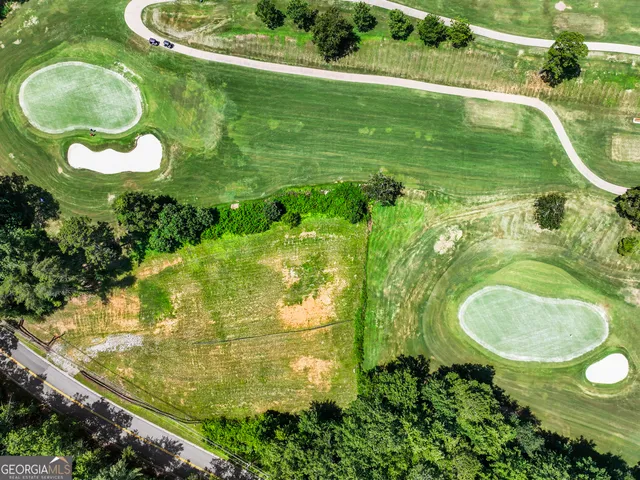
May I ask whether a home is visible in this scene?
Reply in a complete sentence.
No, there is no home in the image.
